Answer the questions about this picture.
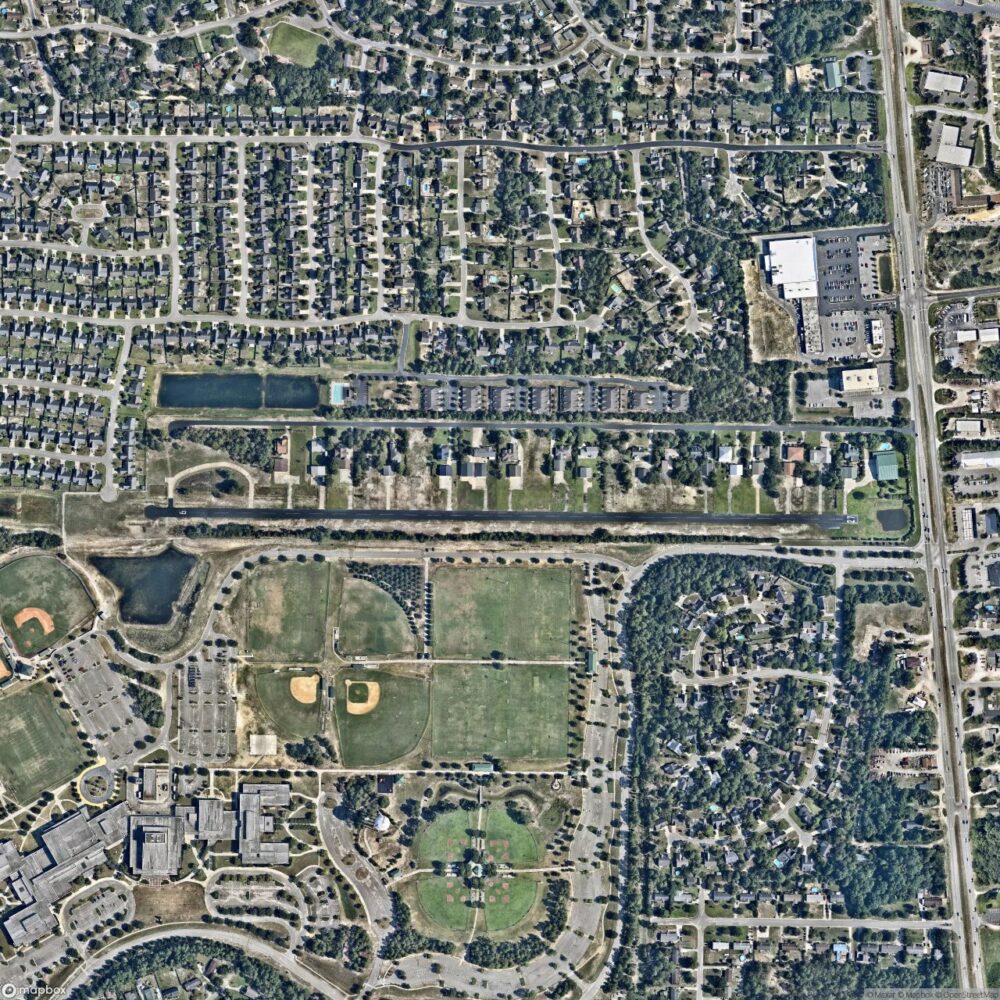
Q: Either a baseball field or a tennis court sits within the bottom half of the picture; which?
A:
baseball field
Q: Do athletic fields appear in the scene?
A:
Yes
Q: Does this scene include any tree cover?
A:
Yes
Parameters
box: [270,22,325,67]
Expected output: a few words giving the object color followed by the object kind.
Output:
green sports field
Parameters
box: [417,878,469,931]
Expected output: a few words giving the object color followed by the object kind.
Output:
green baseball field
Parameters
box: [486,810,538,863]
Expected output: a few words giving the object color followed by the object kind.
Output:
green baseball field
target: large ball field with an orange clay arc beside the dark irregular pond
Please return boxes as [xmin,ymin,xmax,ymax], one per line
[0,554,98,658]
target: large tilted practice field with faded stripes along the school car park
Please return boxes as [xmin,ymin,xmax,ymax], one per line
[0,683,107,805]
